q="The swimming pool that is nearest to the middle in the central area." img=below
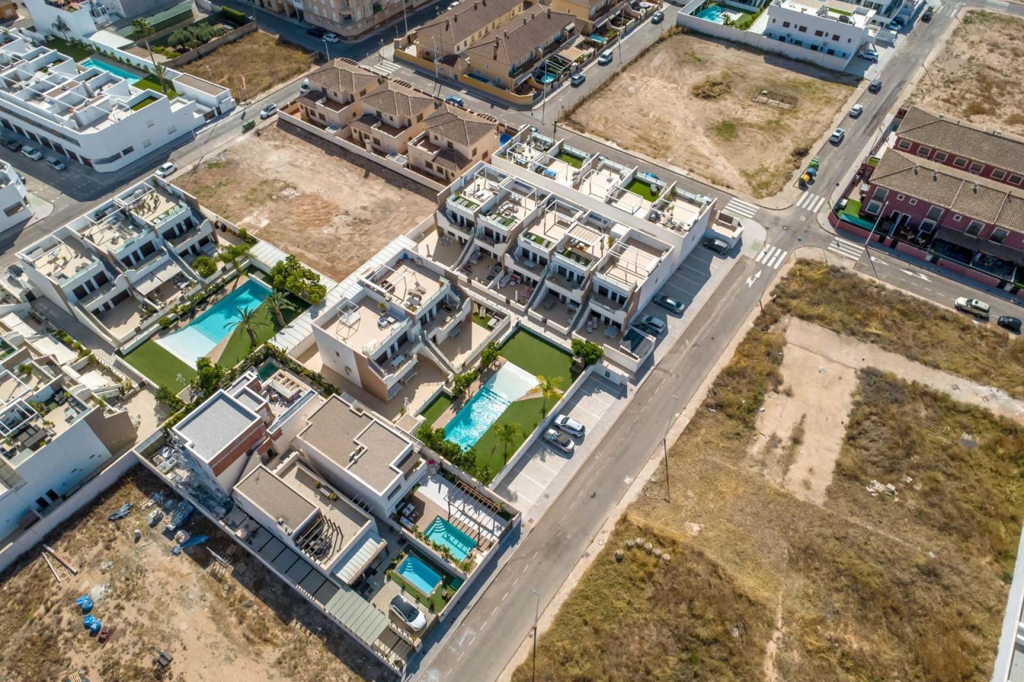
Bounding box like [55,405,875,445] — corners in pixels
[441,362,535,450]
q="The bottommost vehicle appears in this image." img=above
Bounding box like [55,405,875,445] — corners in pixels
[387,595,427,632]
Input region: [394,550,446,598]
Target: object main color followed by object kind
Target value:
blue swimming pool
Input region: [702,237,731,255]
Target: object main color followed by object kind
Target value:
black car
